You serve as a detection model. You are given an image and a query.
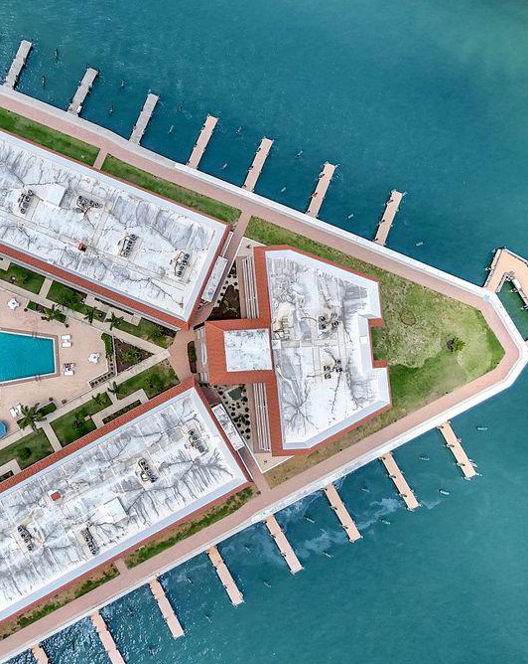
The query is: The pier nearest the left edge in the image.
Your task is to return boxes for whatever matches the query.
[3,37,34,90]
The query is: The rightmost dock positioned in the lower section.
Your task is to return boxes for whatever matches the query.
[437,419,482,480]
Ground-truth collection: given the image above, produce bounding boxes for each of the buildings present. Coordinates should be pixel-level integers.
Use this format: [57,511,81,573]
[0,378,252,626]
[190,245,390,455]
[0,127,234,330]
